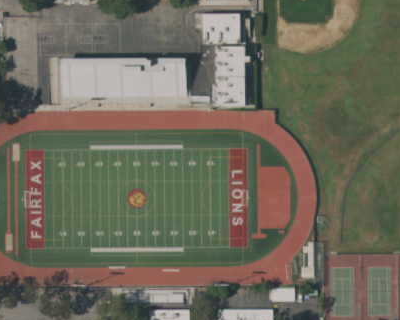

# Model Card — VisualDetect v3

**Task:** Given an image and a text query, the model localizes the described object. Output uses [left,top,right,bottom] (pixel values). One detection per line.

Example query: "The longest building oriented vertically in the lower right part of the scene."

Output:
[301,242,314,278]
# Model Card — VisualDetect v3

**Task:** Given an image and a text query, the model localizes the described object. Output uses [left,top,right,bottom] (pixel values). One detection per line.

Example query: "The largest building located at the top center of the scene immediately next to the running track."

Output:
[216,44,246,106]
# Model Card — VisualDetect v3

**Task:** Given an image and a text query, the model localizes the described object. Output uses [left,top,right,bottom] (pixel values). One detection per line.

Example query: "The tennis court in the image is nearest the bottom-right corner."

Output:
[366,266,392,315]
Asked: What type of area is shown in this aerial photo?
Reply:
sports ground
